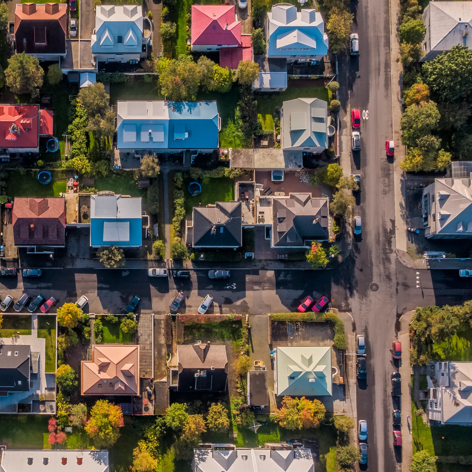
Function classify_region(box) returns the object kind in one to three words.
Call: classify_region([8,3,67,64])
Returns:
house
